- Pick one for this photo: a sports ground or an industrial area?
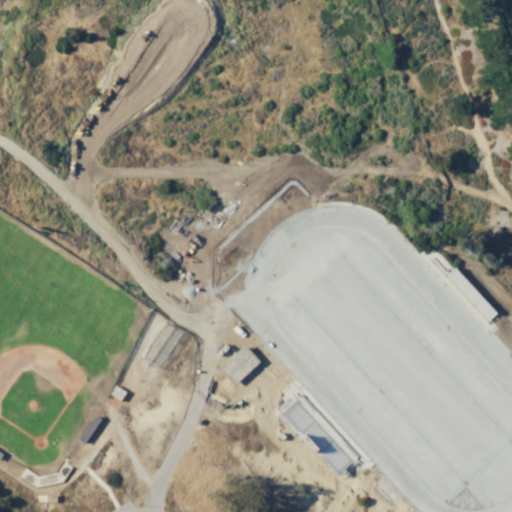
sports ground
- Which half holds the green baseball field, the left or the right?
left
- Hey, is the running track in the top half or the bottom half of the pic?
bottom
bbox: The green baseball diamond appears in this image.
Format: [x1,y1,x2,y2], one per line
[0,216,134,468]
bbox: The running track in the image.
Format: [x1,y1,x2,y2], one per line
[226,196,512,512]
